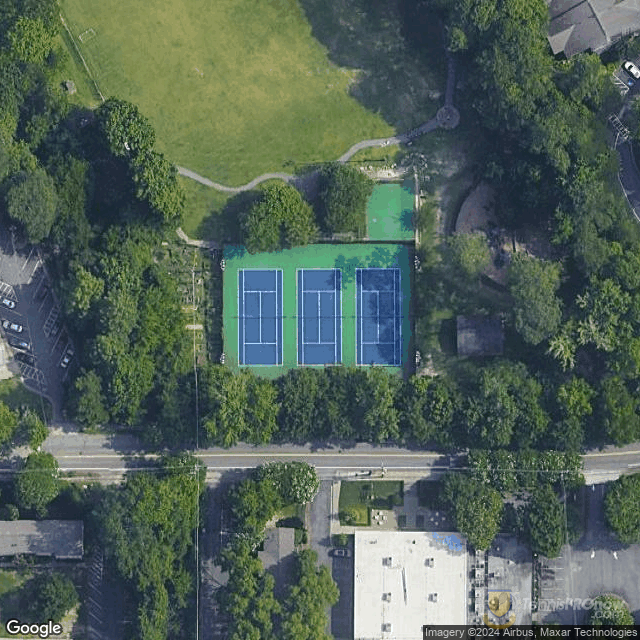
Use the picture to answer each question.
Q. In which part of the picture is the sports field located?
top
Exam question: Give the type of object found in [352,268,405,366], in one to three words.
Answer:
tennis court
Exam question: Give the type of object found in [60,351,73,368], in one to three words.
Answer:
vehicle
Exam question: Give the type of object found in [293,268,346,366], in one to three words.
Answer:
tennis court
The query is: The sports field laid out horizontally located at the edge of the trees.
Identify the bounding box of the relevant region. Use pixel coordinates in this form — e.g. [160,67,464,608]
[63,0,456,184]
